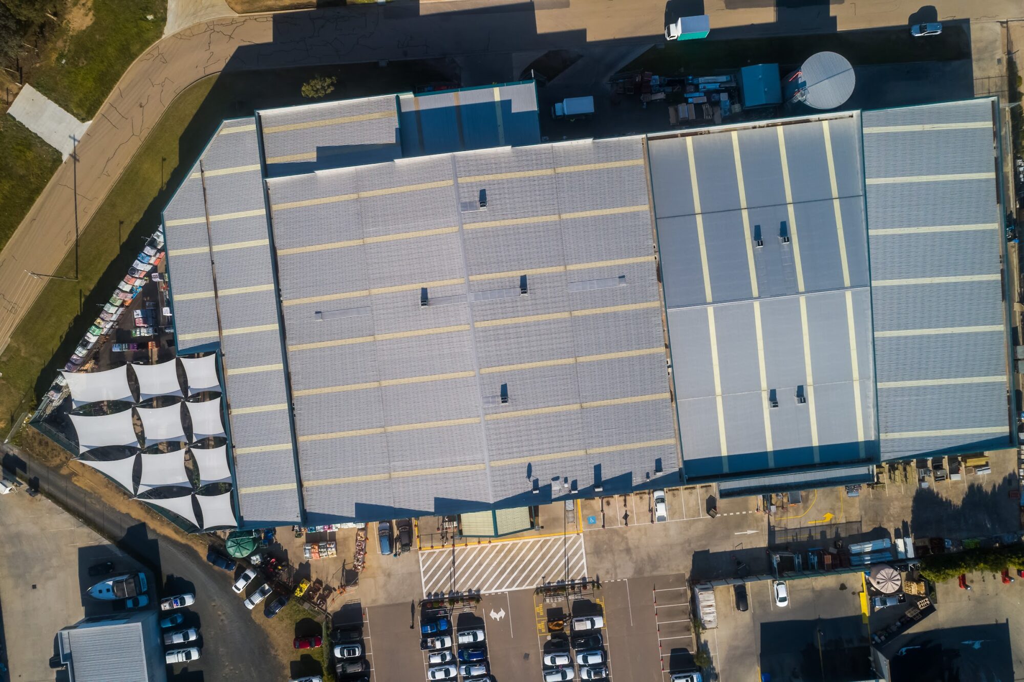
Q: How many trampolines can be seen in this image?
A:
0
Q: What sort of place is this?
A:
industrial area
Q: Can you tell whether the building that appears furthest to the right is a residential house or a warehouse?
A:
warehouse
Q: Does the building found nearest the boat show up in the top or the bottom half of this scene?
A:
bottom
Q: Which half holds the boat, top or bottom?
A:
bottom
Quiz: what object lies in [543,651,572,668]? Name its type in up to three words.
car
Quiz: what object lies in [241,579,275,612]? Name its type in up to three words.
truck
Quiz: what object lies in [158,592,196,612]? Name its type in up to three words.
vehicle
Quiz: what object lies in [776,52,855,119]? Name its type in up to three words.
water tank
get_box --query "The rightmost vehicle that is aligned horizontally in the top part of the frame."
[908,21,943,39]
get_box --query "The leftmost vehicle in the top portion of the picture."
[553,94,596,118]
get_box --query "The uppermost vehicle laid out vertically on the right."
[652,489,668,523]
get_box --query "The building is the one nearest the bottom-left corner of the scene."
[58,610,166,682]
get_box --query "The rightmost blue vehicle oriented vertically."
[377,521,393,555]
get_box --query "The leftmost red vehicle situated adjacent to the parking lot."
[291,634,325,651]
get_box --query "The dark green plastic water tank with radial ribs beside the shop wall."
[228,528,262,558]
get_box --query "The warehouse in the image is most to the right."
[863,97,1018,463]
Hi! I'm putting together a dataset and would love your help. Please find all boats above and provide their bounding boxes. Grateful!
[85,575,150,598]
